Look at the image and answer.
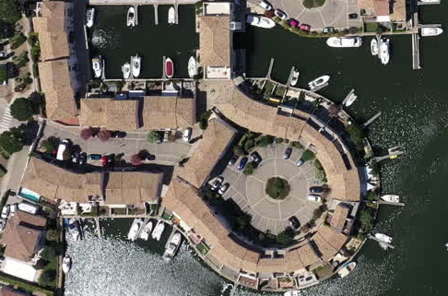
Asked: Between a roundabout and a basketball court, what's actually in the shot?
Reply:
roundabout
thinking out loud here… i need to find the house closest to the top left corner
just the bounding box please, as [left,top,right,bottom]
[32,1,79,61]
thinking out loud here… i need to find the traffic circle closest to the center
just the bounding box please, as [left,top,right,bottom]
[231,144,320,232]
